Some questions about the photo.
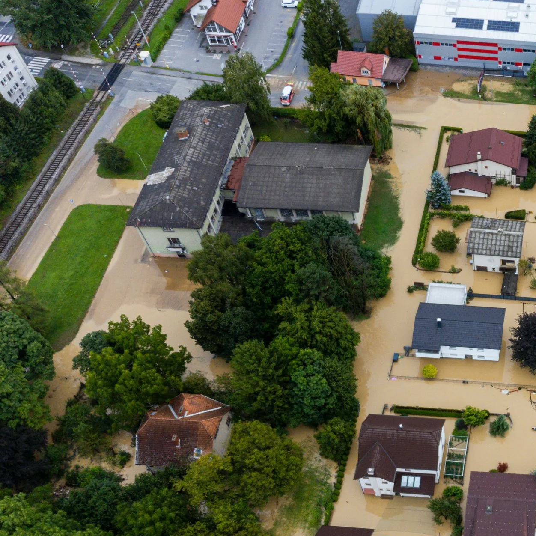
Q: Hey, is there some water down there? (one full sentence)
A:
Yes, some water is visible.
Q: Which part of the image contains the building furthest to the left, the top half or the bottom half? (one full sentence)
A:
The building furthest to the left sits in the top half of the picture.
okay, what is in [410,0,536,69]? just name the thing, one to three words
building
